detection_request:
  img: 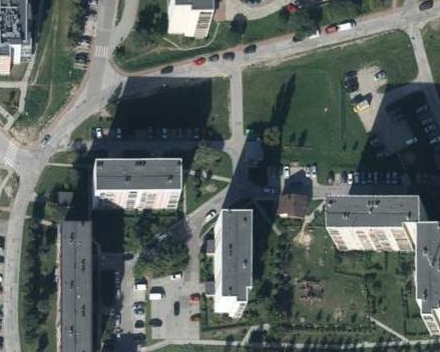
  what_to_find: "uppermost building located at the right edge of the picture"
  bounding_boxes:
[325,196,420,250]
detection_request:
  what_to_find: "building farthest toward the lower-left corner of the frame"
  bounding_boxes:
[57,221,94,352]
